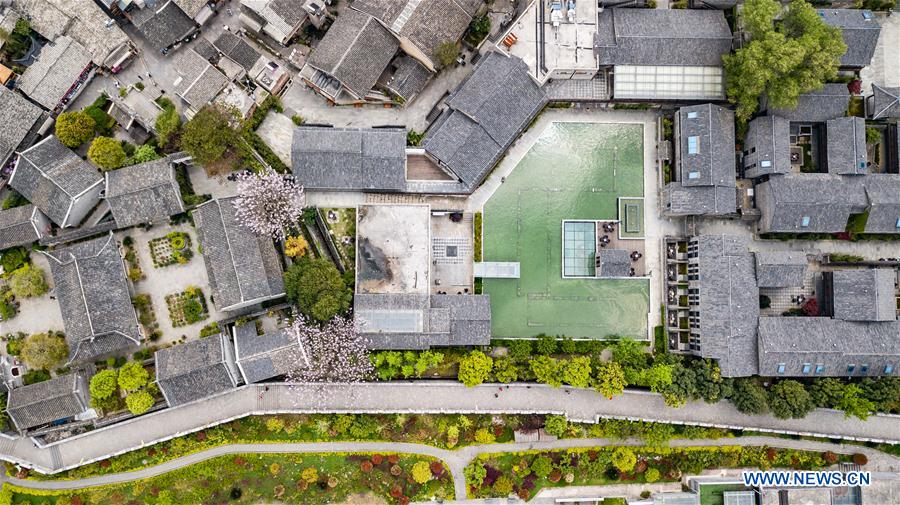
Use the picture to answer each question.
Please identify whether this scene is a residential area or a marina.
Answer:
residential area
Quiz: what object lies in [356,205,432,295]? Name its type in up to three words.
building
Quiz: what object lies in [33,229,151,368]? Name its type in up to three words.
building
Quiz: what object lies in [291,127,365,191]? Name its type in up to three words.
house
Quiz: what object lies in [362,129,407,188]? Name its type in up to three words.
house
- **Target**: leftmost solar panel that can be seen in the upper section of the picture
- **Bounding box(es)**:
[263,54,282,74]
